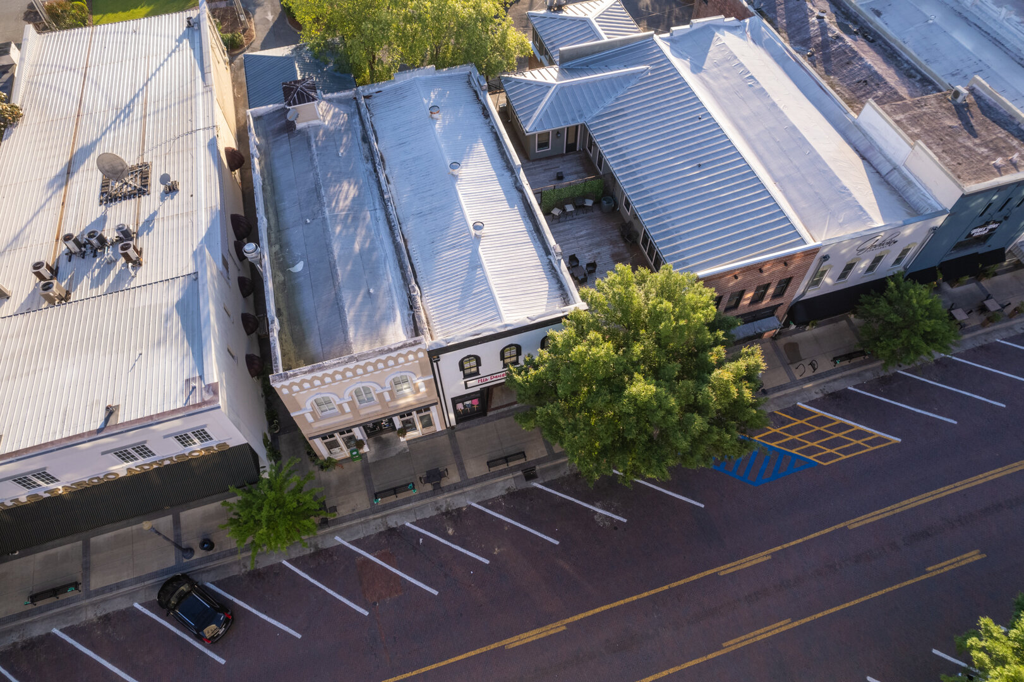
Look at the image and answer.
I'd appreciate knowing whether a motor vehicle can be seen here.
Yes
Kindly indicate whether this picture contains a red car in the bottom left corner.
No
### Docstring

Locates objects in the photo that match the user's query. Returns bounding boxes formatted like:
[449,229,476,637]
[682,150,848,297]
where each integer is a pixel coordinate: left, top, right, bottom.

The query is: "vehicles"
[155,570,237,649]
